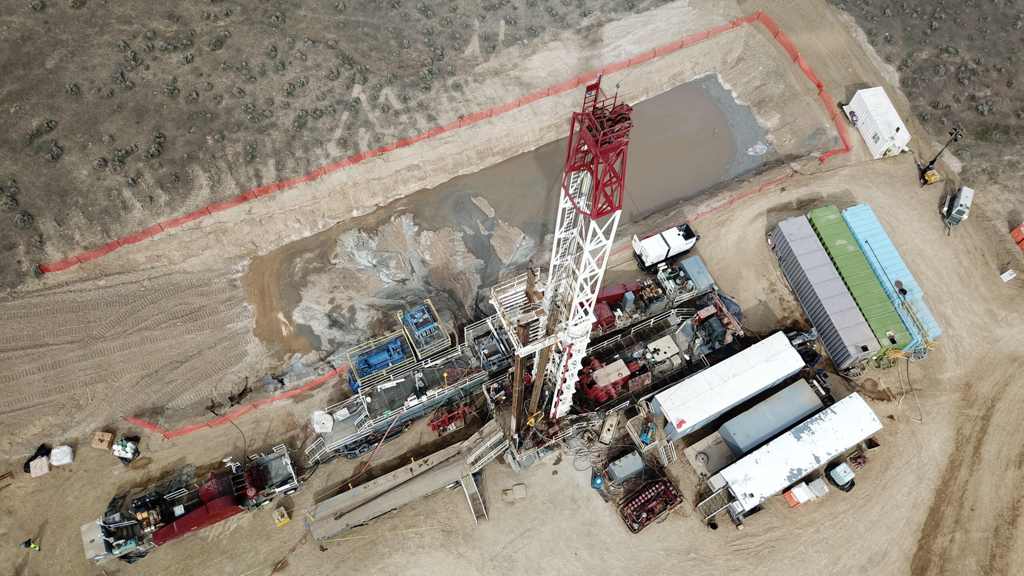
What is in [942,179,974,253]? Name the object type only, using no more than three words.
trailer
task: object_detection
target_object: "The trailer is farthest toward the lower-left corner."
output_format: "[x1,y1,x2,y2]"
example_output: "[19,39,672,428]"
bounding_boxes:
[81,445,302,565]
